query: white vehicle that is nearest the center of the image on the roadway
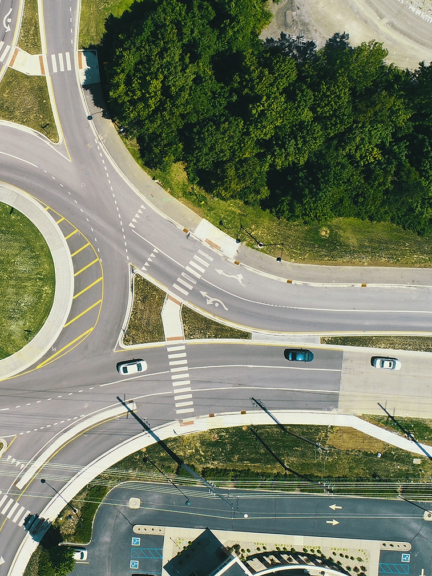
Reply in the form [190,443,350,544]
[115,359,149,374]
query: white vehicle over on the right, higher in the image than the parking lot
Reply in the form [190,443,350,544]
[369,356,402,371]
